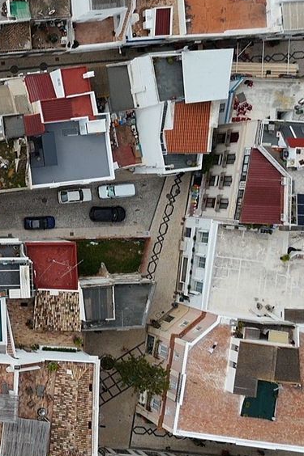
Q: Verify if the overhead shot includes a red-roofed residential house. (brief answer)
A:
Yes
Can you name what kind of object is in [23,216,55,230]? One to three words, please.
car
